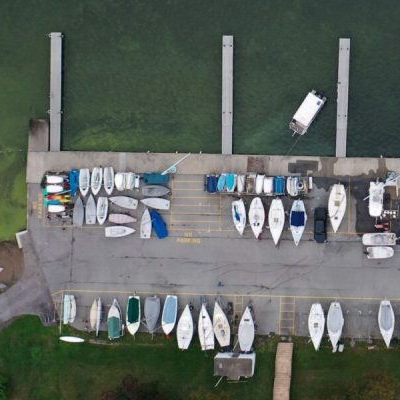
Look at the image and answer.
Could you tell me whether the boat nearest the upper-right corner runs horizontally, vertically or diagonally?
diagonally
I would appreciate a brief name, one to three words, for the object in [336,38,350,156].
pier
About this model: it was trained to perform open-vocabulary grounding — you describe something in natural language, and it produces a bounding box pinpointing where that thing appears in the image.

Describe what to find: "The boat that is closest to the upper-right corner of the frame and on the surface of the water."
[290,89,328,143]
